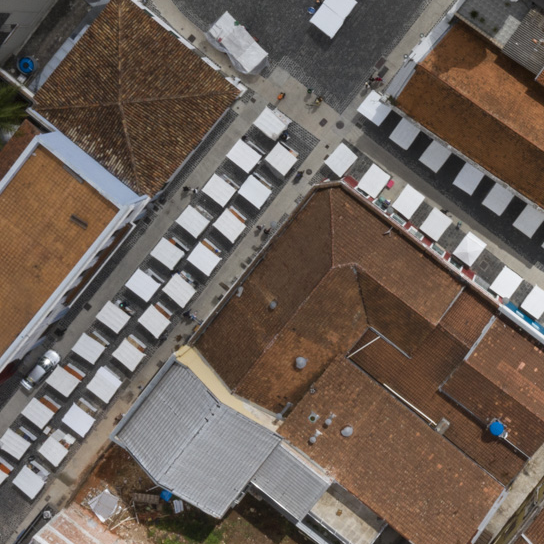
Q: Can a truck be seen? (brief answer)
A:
No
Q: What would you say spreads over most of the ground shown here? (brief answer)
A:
buildings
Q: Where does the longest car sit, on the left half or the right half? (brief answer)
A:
left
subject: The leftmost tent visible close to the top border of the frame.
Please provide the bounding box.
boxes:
[208,12,269,73]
